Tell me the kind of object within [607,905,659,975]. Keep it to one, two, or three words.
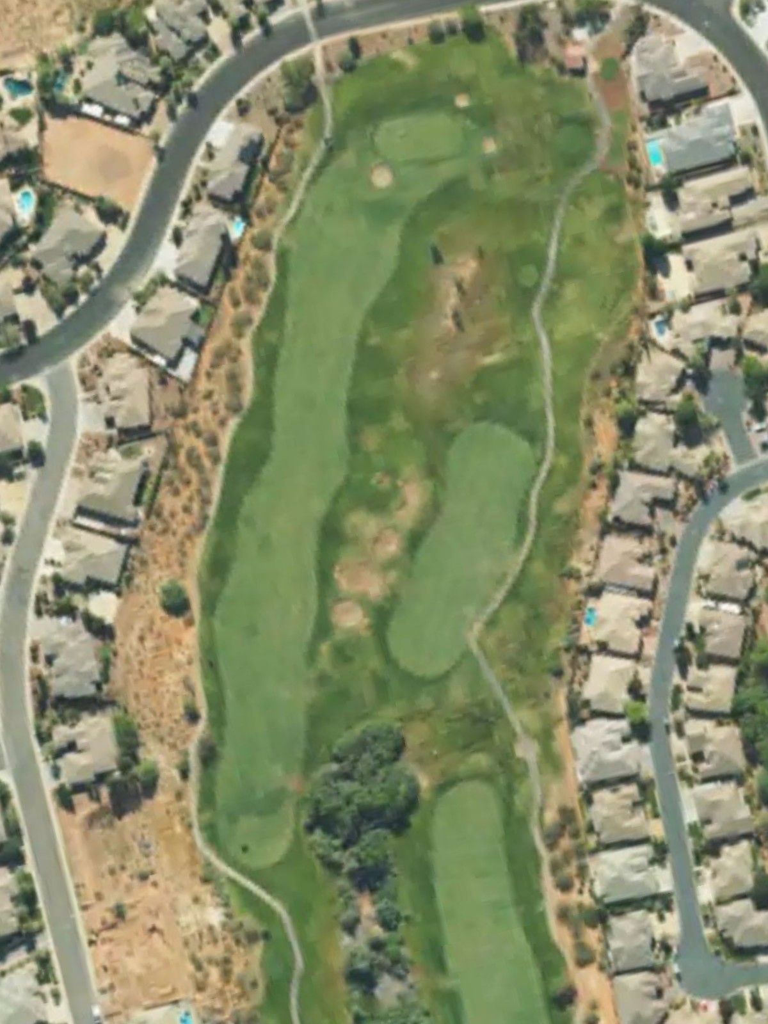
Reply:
house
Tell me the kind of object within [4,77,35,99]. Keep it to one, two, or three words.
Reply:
swimming pool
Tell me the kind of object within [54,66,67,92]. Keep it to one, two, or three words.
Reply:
swimming pool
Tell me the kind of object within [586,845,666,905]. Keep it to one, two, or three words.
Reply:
house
